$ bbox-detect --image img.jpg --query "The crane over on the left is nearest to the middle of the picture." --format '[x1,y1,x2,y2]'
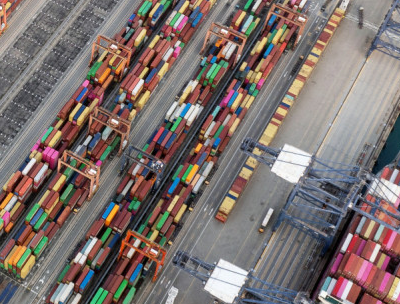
[117,144,166,195]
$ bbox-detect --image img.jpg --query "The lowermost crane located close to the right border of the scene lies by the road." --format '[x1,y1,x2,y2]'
[244,135,400,262]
